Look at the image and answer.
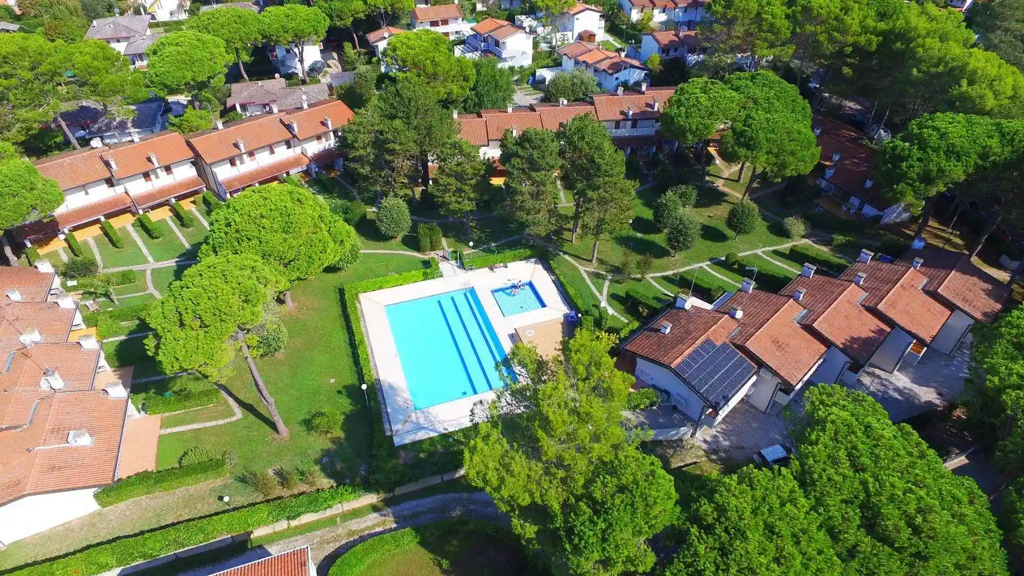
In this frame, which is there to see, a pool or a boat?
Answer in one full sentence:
This aerial view contains a pool.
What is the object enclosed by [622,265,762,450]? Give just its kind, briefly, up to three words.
house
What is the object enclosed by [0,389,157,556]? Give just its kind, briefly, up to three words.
house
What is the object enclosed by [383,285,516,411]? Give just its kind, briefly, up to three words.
swimming pool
